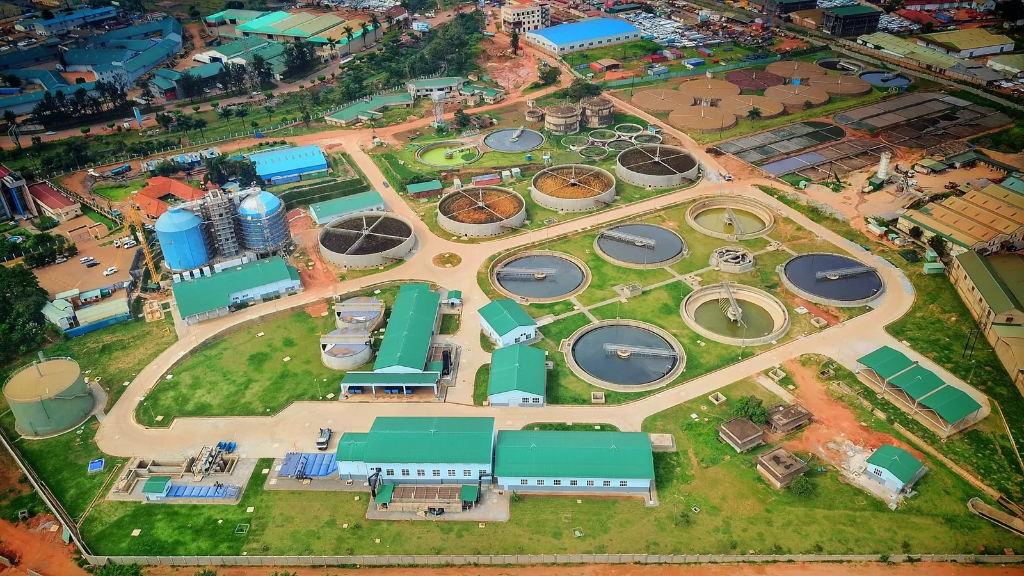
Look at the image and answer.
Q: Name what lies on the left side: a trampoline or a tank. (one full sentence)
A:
You can see a tank on the left side.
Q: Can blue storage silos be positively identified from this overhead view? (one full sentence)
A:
Yes, a blue storage silo is visible in the scene.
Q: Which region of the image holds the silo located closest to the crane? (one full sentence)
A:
The silo located closest to the crane sits in the left section of the image.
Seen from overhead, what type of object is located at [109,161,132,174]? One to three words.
vehicle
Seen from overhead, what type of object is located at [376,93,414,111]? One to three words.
building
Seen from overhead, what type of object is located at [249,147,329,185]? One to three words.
shed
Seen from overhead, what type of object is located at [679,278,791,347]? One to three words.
storage tank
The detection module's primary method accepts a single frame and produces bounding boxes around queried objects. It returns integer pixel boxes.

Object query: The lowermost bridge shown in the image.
[603,344,681,359]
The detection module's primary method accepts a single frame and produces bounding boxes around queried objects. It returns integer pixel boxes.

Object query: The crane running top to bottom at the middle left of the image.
[114,185,164,285]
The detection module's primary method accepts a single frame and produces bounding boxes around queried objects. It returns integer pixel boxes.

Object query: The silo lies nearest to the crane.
[151,206,214,277]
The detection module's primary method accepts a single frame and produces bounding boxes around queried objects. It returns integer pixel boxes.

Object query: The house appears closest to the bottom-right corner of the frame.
[867,444,924,493]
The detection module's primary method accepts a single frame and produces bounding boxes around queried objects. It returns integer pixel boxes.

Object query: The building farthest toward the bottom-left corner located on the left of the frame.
[141,475,174,502]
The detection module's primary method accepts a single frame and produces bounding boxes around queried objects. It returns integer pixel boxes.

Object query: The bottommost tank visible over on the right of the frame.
[555,320,684,393]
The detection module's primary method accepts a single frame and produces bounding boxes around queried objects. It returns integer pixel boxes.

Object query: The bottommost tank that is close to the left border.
[0,348,92,431]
